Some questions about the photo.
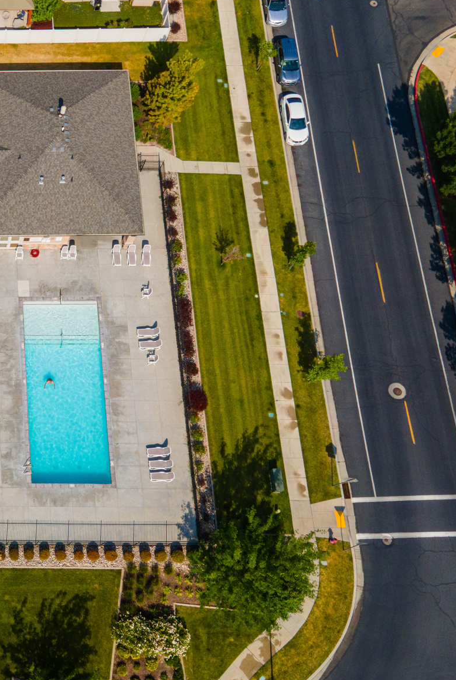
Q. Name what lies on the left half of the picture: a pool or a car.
pool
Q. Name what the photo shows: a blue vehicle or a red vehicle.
blue vehicle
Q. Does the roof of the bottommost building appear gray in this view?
Yes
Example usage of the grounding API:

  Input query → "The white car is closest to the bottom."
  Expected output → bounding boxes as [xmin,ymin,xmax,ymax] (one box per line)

[280,95,312,145]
